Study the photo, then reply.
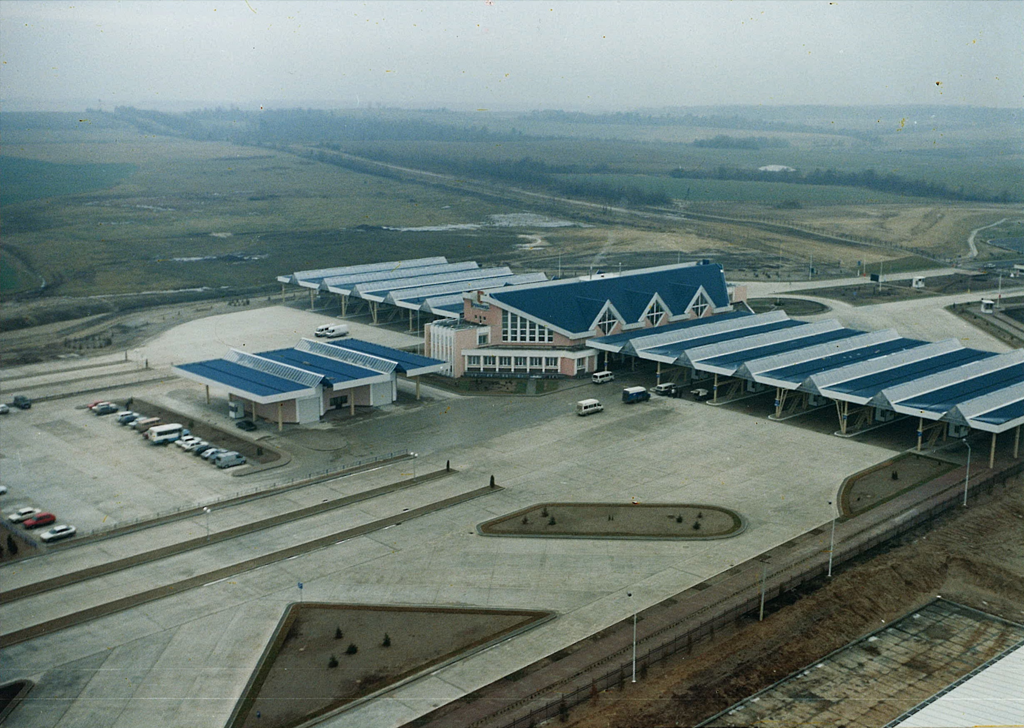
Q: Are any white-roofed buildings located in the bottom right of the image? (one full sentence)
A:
Yes, I can see a white-roofed building in the bottom right of the image.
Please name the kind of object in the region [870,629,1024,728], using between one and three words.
building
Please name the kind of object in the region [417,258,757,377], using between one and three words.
building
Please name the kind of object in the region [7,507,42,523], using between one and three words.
car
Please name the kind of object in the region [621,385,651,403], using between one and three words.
vehicle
